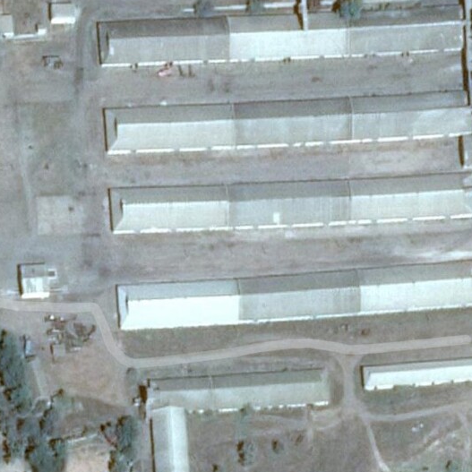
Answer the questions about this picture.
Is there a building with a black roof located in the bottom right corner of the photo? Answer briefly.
No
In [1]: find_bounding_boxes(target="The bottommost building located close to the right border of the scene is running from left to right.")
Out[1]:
[362,357,472,387]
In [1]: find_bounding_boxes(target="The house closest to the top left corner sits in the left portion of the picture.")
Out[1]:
[0,15,14,39]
